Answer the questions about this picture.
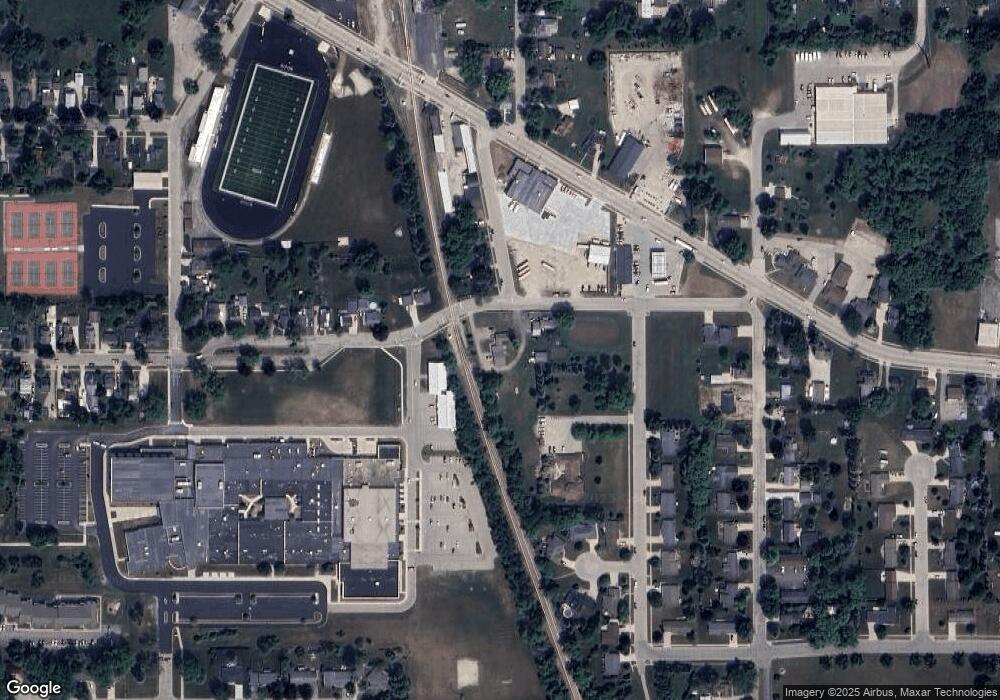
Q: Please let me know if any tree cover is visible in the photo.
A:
Yes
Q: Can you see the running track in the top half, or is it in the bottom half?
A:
top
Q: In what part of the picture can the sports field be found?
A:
top left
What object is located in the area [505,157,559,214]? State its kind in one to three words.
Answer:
building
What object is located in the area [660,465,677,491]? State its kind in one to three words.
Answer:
house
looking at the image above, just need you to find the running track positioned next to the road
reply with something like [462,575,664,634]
[202,14,330,239]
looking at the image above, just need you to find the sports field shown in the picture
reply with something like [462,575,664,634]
[202,14,330,239]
